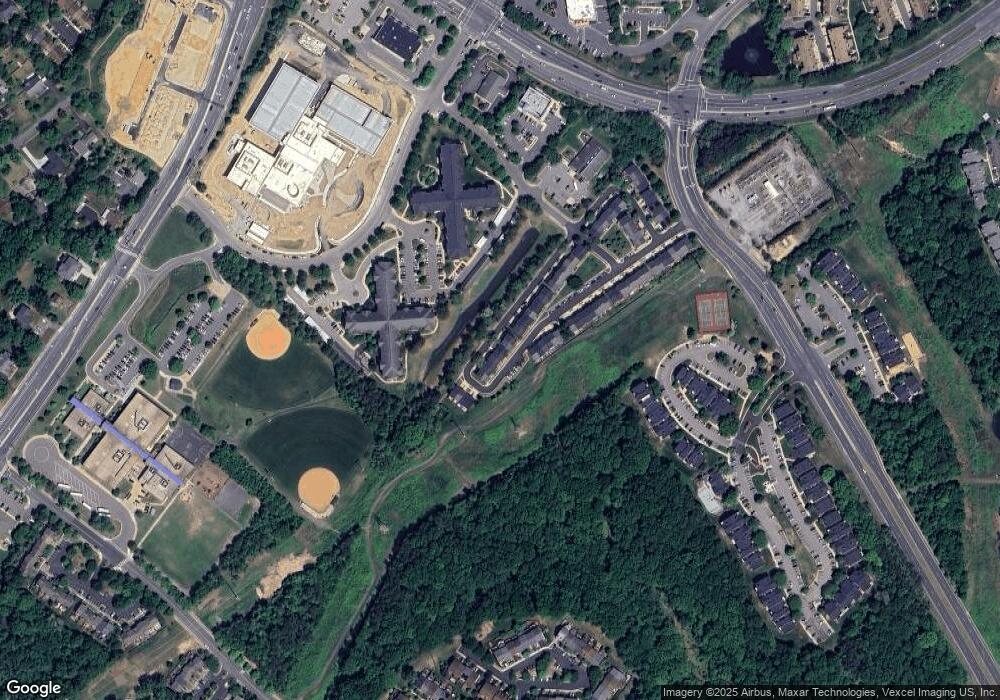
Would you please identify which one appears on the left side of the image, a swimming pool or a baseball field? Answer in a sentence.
The feature located on the left side of the image is a baseball field.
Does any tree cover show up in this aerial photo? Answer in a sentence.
Yes, tree cover shows up in the scene.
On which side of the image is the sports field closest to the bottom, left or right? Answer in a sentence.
You can find the sports field closest to the bottom on the left side of the picture.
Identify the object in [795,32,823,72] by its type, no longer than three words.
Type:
building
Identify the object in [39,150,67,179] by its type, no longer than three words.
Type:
house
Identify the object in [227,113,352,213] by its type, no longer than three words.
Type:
building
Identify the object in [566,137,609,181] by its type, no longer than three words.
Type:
house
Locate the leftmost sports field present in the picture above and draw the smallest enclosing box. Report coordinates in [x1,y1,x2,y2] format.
[142,486,240,589]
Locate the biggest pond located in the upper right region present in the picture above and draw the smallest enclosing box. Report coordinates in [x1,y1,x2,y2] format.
[723,21,780,76]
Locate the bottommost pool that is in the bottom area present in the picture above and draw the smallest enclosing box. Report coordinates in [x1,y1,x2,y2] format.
[698,481,724,514]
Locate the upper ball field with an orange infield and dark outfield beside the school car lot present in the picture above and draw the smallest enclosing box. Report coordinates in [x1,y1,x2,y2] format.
[203,308,335,410]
